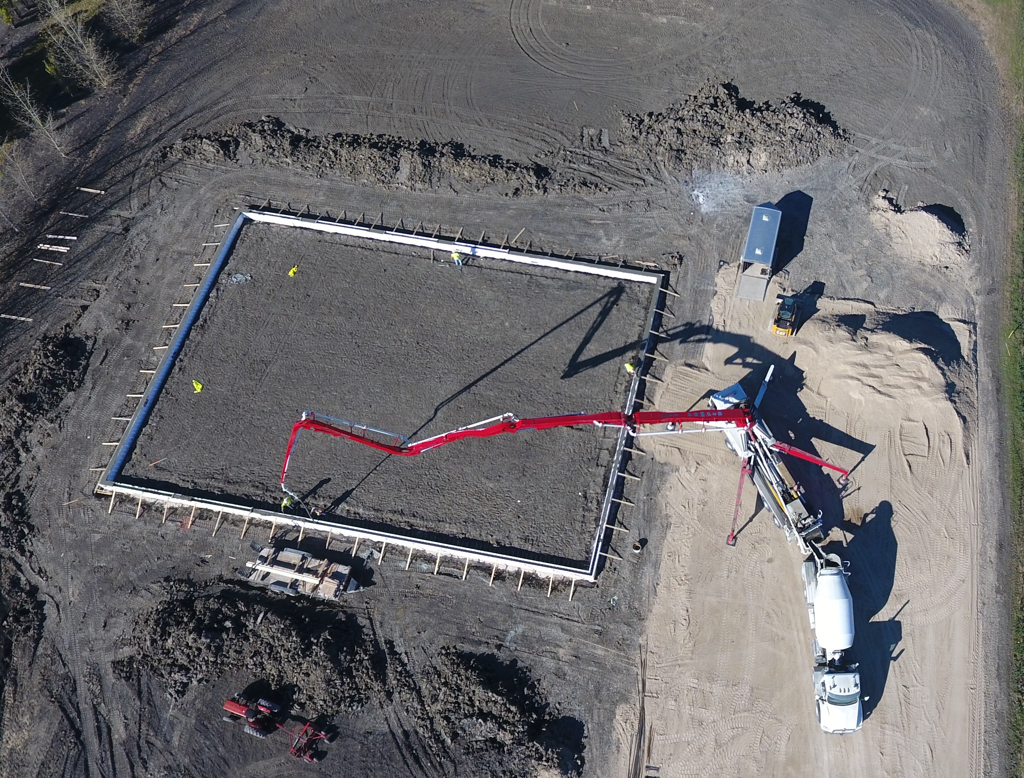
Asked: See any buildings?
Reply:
No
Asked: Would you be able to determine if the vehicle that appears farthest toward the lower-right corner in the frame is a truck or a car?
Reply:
truck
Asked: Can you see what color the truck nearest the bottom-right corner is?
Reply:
white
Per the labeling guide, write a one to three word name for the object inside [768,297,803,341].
work vehicle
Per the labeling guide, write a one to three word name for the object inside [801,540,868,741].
truck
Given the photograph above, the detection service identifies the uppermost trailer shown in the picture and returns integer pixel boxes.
[738,202,782,302]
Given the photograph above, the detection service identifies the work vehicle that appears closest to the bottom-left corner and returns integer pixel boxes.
[215,688,286,745]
